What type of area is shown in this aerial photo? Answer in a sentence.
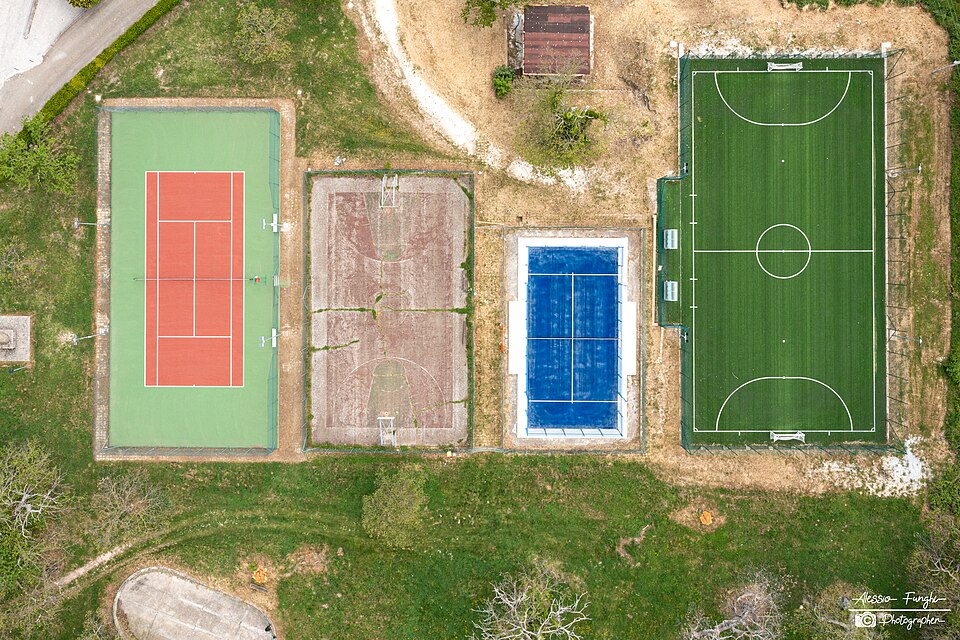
This image shows a sports ground.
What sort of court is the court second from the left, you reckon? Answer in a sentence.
The court second from the left is a basketball court.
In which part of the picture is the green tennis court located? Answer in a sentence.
The green tennis court is located in the left region of the scene.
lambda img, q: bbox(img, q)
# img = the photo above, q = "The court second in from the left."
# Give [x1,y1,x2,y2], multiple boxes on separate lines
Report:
[308,176,472,444]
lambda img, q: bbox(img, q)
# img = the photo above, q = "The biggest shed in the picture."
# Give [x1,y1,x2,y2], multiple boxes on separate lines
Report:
[525,6,590,78]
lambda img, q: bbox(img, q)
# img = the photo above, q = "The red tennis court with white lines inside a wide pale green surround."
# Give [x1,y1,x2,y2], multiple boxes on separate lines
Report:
[109,111,279,448]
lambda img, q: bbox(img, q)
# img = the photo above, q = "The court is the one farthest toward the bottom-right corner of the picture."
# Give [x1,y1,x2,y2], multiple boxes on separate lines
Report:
[506,231,639,448]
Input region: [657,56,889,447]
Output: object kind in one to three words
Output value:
soccer field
